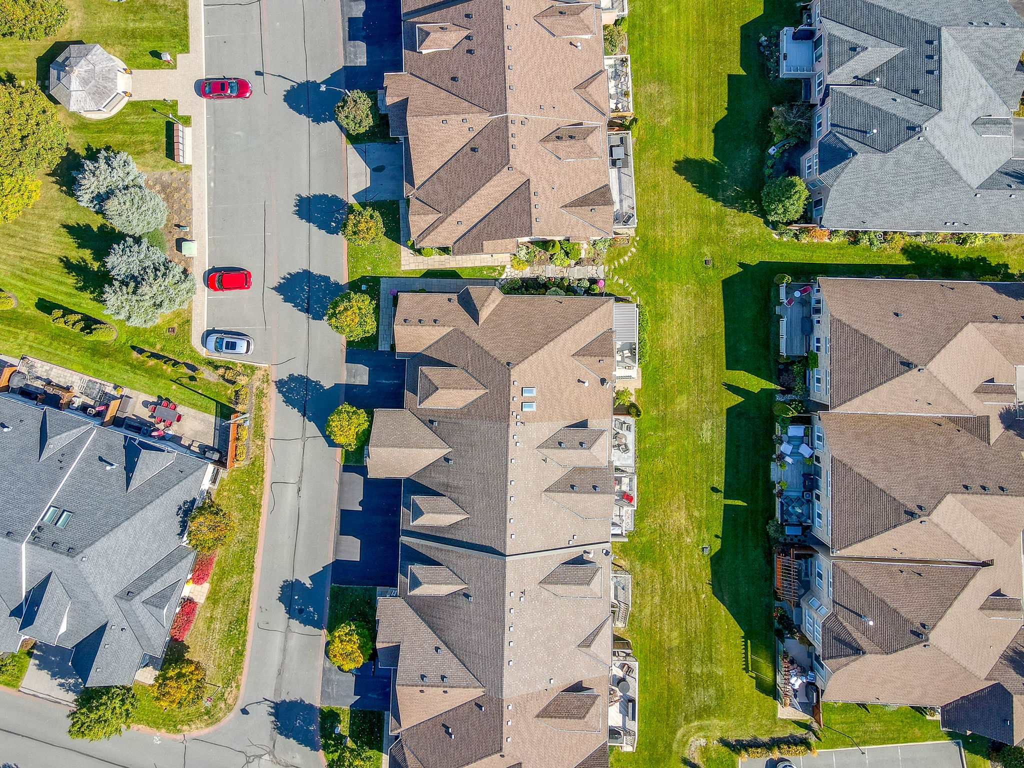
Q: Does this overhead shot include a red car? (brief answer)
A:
Yes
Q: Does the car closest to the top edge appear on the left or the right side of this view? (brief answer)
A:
left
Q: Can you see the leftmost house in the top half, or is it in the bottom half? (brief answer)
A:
bottom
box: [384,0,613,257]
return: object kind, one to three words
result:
house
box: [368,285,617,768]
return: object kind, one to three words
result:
house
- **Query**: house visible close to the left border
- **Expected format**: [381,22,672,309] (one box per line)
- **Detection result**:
[0,391,217,687]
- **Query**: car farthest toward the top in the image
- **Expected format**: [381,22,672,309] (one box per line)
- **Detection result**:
[201,75,255,102]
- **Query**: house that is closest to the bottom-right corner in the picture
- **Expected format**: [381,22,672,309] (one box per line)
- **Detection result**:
[796,277,1024,746]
